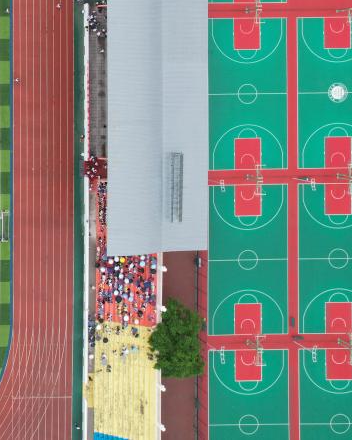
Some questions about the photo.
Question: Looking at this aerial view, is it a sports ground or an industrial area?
sports ground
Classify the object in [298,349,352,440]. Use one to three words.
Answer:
basketball court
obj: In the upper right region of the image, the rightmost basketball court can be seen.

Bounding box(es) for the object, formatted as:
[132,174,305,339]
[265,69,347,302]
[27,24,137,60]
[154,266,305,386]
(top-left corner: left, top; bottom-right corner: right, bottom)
[297,17,352,168]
